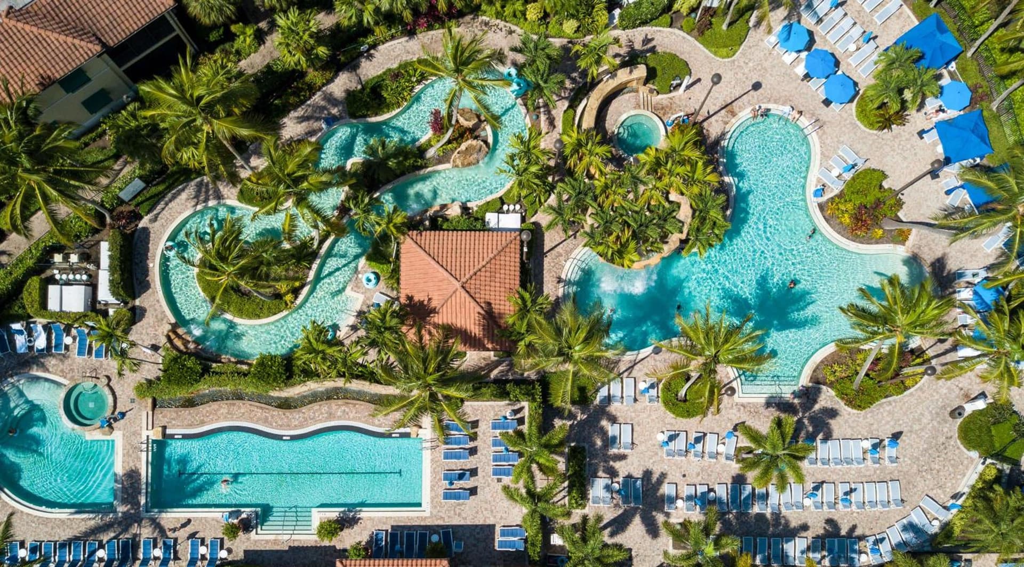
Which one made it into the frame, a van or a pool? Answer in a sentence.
It is a pool that can be seen here.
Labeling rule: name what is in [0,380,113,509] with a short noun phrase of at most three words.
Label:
swimming pool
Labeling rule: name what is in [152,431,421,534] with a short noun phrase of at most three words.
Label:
swimming pool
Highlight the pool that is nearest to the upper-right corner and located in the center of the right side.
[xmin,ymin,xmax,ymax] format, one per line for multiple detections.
[570,114,931,392]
